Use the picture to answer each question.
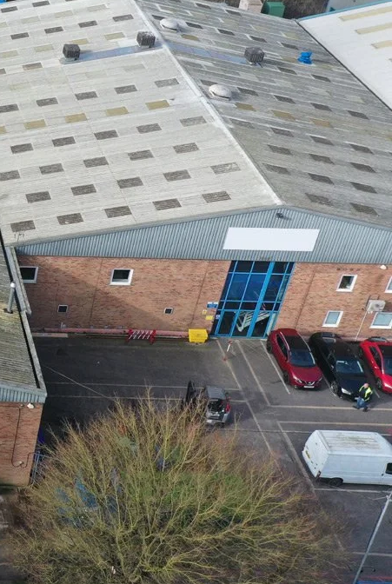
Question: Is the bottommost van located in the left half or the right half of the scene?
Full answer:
You can find the bottommost van on the right side of the picture.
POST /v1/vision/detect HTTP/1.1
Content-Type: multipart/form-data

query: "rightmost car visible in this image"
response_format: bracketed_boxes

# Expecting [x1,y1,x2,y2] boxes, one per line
[359,333,392,389]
